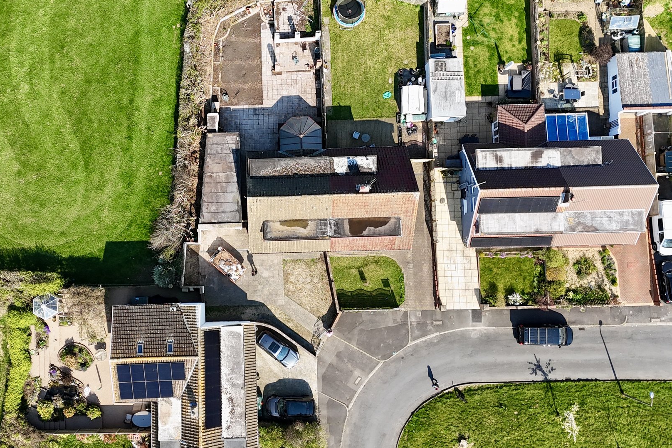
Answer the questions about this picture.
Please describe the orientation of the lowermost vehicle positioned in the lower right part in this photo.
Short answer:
from side to side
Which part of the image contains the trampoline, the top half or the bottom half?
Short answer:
top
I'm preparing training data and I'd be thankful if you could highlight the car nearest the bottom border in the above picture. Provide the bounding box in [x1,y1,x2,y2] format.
[265,394,318,422]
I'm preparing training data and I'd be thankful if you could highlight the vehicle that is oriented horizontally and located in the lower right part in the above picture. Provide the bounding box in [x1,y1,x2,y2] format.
[515,323,572,349]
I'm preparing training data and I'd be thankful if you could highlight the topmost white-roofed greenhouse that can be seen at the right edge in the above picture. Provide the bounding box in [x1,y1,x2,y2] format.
[600,9,642,35]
